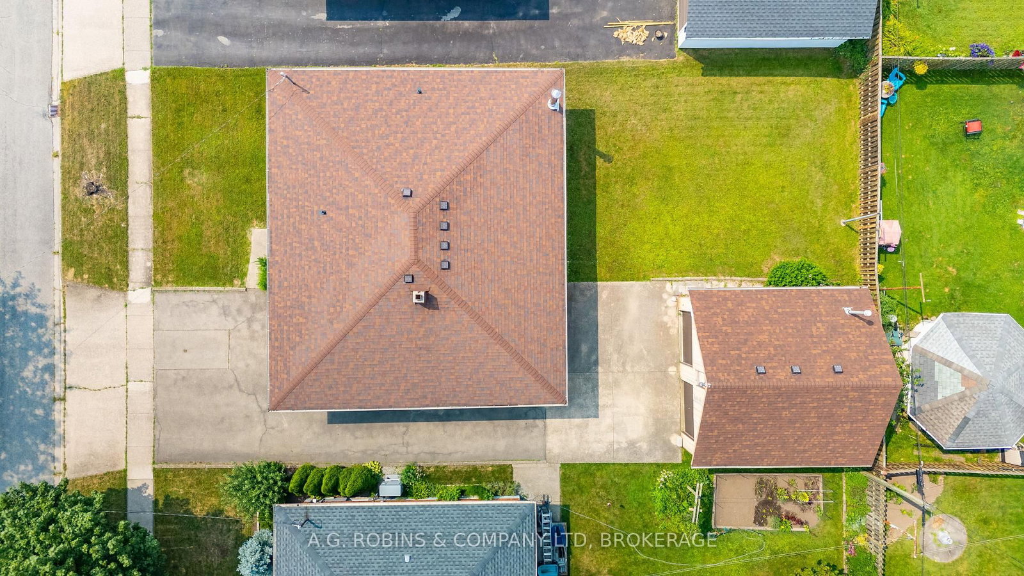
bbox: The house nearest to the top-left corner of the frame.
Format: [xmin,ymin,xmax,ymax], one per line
[266,67,567,410]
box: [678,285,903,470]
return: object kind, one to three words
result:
building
